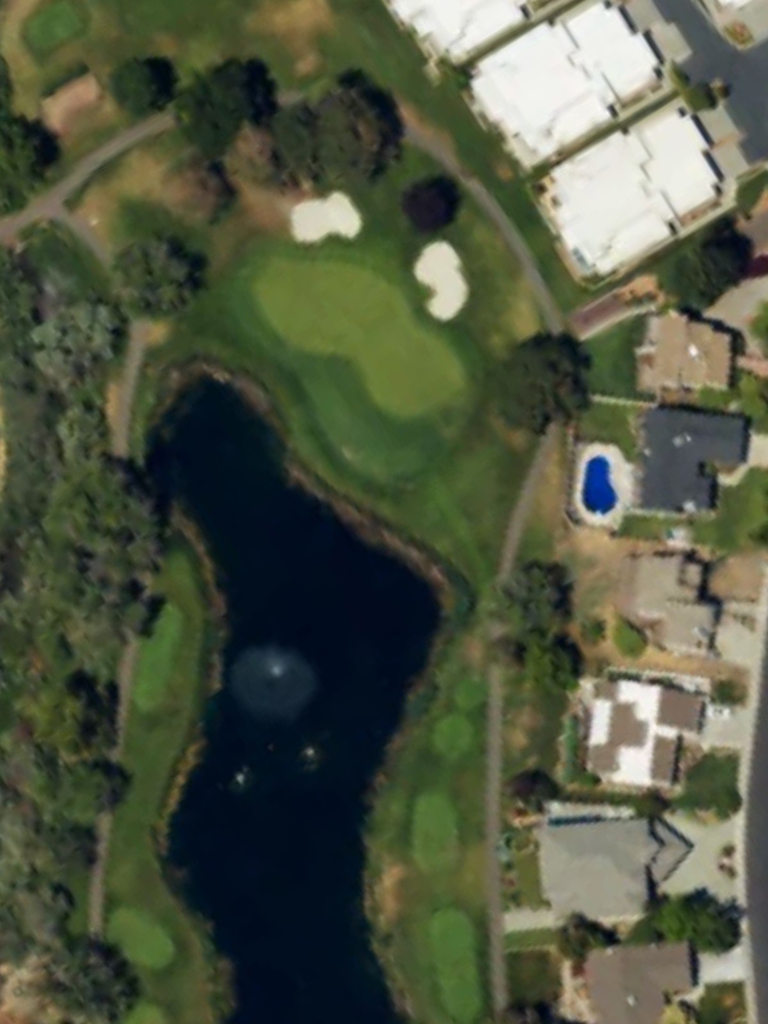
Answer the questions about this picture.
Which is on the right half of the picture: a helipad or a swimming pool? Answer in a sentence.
It is a swimming pool that can be seen on the right half of the picture.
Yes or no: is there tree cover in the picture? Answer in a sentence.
Yes, there is tree cover in the image.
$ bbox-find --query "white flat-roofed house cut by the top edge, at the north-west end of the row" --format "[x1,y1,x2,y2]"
[392,0,534,58]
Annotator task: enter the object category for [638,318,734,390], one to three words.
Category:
house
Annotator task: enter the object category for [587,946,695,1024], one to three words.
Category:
house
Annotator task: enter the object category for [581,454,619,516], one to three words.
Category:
swimming pool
